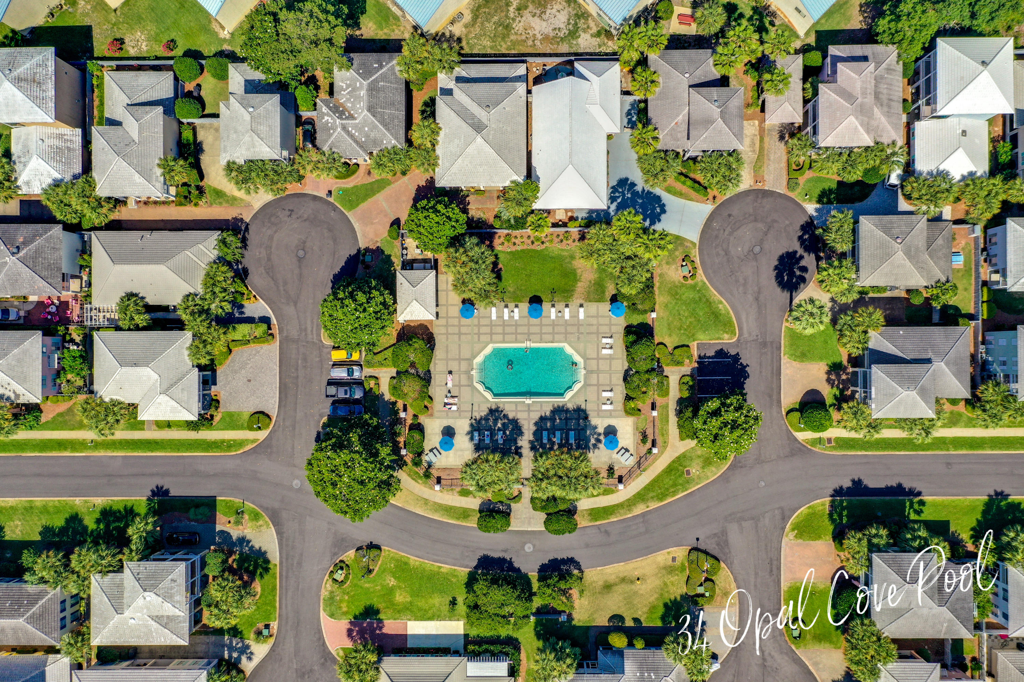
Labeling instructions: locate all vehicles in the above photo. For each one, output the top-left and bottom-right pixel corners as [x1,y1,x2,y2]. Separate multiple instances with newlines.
[330,350,361,363]
[0,306,22,322]
[166,532,200,546]
[882,160,900,191]
[300,117,316,150]
[330,365,363,380]
[330,403,364,419]
[325,384,365,400]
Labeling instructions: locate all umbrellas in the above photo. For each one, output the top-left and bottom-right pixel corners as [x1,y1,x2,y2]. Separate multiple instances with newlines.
[439,436,454,452]
[604,435,618,450]
[610,302,626,317]
[460,304,475,319]
[528,303,543,319]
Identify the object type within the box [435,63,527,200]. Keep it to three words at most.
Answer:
house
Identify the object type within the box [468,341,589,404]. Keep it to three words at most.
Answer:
swimming pool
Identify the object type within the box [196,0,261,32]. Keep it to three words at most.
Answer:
building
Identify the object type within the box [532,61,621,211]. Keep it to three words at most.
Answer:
house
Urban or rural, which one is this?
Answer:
urban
